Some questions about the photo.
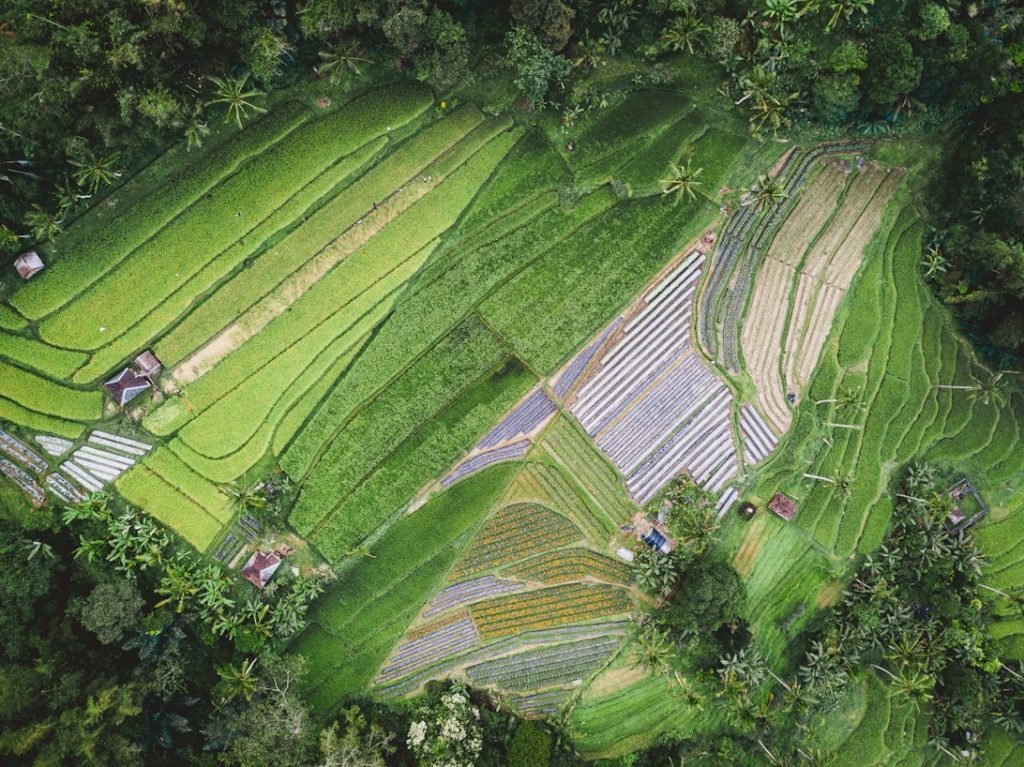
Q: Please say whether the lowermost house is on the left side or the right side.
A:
left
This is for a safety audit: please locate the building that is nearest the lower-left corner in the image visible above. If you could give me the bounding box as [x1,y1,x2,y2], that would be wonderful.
[240,550,283,590]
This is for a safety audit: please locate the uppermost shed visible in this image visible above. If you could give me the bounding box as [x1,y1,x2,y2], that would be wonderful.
[12,250,49,280]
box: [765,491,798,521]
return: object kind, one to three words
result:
shed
